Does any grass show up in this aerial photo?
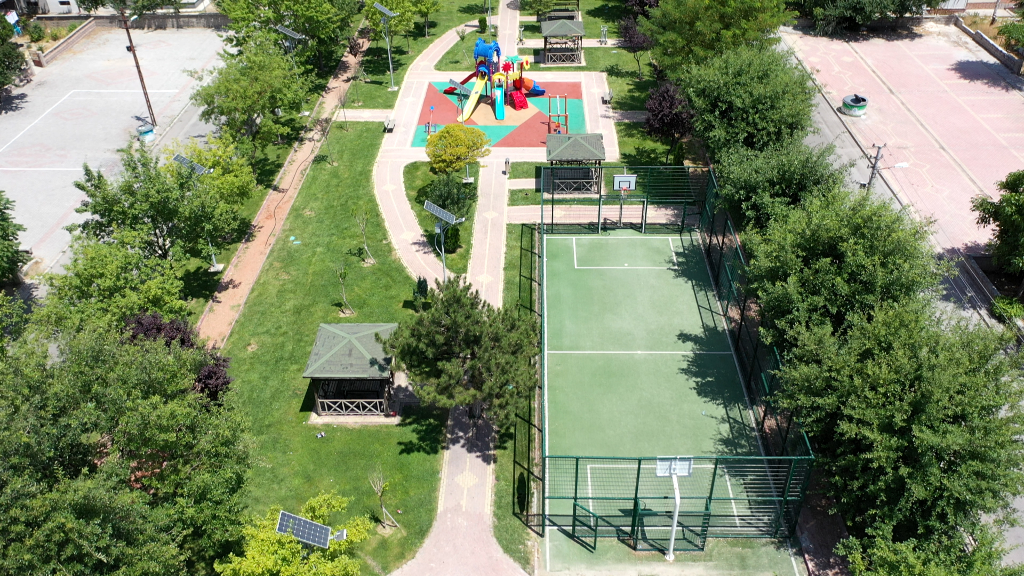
Yes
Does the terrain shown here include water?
No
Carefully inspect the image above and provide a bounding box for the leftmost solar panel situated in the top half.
[171,160,204,181]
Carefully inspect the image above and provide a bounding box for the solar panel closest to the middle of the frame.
[422,202,453,226]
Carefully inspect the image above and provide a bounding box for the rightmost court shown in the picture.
[543,224,808,576]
